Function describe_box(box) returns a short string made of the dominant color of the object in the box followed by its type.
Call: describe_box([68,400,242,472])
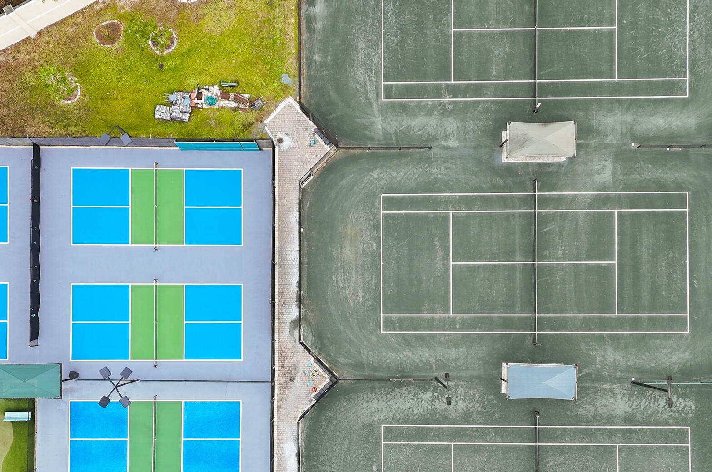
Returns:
blue sports court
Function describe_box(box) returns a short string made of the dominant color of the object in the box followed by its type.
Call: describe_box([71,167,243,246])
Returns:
blue sports court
